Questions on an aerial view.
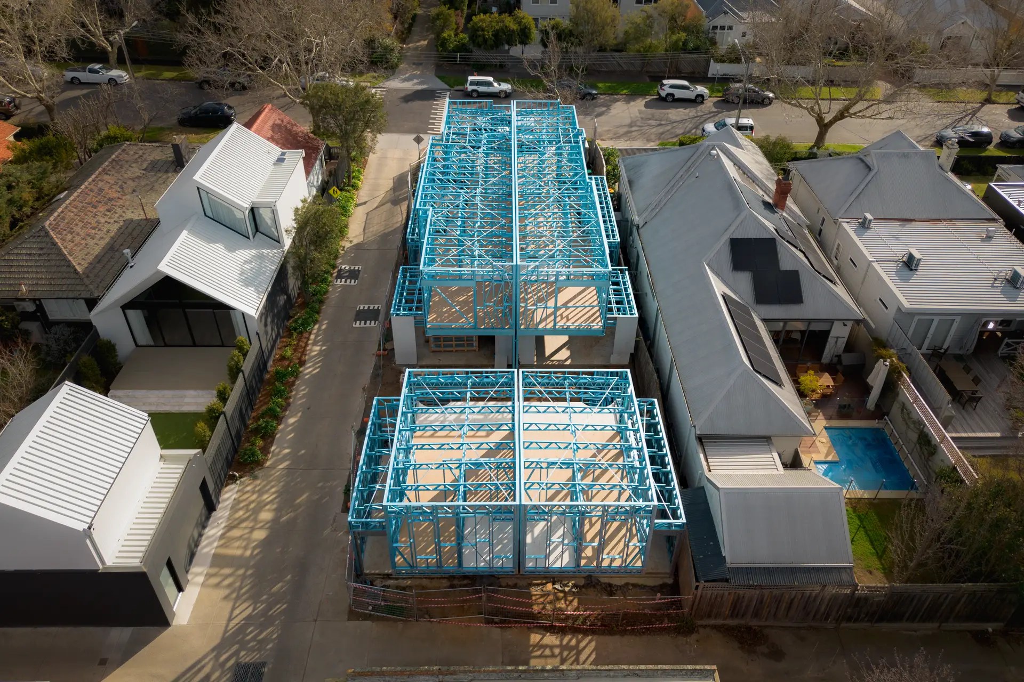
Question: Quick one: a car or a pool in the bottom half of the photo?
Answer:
pool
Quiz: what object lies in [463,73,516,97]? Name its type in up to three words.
car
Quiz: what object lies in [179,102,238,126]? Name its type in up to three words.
car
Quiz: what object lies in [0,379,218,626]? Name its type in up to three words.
building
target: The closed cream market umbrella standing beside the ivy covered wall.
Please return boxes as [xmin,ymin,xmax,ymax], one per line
[864,364,890,417]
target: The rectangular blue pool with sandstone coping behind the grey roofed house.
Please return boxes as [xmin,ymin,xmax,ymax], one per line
[808,420,927,497]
